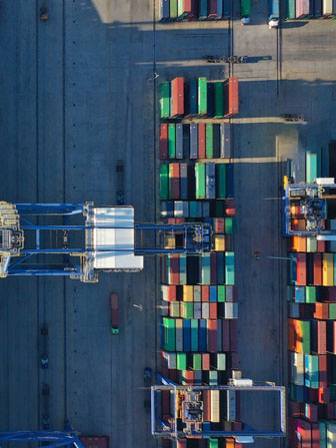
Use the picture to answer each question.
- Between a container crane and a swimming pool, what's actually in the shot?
container crane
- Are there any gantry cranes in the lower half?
Yes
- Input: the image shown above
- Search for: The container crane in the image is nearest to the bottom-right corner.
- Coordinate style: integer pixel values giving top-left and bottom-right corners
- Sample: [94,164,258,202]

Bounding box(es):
[152,364,287,442]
